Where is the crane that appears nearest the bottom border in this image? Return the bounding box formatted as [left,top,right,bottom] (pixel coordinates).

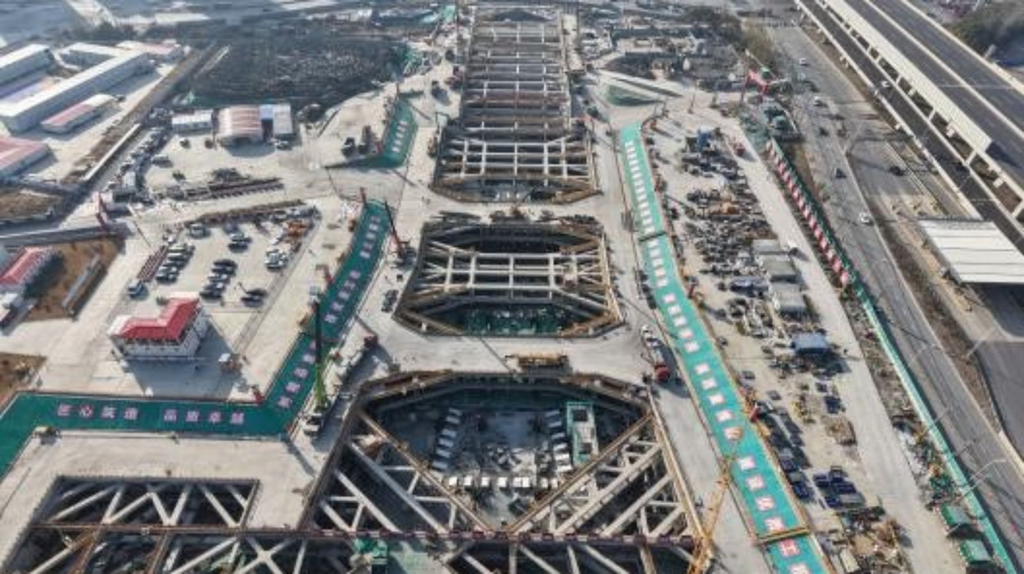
[685,440,737,574]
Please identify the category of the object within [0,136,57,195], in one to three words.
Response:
building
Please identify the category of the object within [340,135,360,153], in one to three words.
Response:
vehicle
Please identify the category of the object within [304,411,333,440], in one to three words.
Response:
truck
